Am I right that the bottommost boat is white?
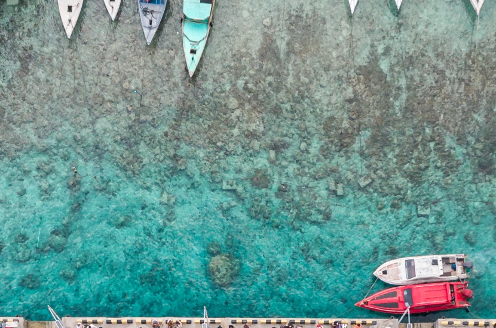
No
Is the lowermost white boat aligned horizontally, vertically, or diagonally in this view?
horizontally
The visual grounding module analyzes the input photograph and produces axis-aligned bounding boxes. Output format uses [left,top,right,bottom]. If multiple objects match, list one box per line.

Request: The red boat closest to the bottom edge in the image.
[354,281,474,314]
